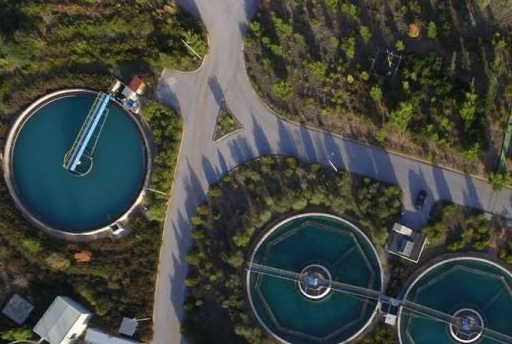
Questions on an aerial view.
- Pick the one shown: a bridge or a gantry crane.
bridge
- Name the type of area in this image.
industrial area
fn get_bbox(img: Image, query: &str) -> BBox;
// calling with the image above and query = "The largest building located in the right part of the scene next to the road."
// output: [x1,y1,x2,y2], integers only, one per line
[385,223,427,263]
